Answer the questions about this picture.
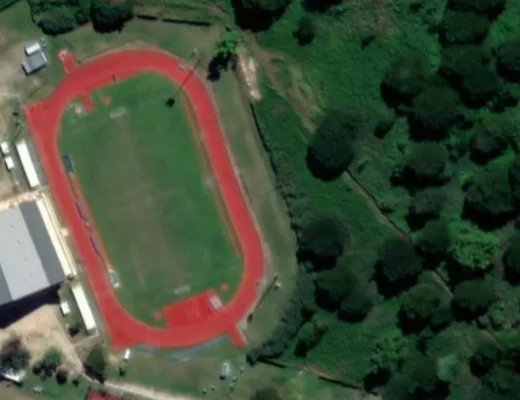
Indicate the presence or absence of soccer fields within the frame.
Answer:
Yes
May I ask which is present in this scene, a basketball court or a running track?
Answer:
running track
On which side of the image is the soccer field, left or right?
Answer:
left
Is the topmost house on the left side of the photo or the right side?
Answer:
left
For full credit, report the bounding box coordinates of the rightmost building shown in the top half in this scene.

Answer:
[24,46,45,75]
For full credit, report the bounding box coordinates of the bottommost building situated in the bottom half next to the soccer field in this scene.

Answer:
[0,200,63,303]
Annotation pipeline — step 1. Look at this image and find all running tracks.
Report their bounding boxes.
[26,46,269,350]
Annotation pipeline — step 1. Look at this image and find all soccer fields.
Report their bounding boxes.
[56,71,244,329]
